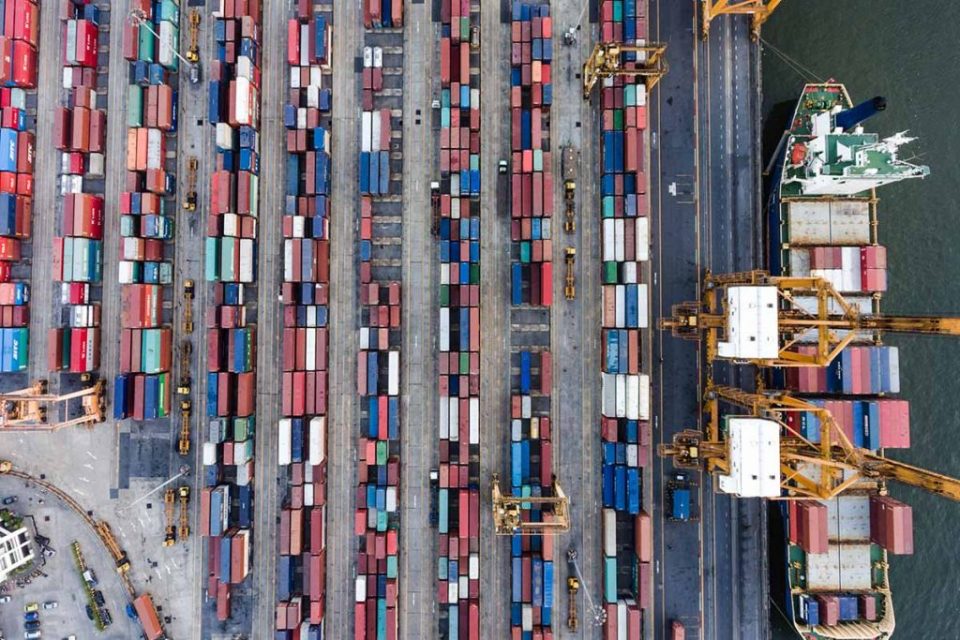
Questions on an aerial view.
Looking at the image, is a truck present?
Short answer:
Yes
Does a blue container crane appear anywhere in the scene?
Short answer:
No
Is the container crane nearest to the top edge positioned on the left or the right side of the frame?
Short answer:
right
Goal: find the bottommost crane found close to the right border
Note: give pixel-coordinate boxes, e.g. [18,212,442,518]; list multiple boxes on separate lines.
[653,379,960,499]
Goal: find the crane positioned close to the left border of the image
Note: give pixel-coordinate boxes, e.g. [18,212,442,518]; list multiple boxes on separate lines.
[0,386,103,426]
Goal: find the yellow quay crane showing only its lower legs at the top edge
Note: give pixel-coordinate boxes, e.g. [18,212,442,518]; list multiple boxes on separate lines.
[706,0,790,54]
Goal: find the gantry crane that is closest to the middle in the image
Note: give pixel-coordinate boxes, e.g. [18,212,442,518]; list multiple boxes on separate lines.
[488,476,573,528]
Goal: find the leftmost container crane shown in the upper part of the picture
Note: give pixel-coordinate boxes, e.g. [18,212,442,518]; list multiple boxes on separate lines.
[580,41,673,103]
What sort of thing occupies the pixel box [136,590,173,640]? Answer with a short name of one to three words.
truck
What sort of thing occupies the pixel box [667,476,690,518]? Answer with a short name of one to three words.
truck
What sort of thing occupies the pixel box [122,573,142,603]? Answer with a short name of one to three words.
vehicle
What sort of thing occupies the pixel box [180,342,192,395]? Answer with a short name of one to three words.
vehicle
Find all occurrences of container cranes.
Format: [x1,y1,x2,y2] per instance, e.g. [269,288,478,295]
[706,0,790,54]
[653,379,960,499]
[652,267,960,379]
[488,476,573,528]
[580,41,673,103]
[0,386,103,426]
